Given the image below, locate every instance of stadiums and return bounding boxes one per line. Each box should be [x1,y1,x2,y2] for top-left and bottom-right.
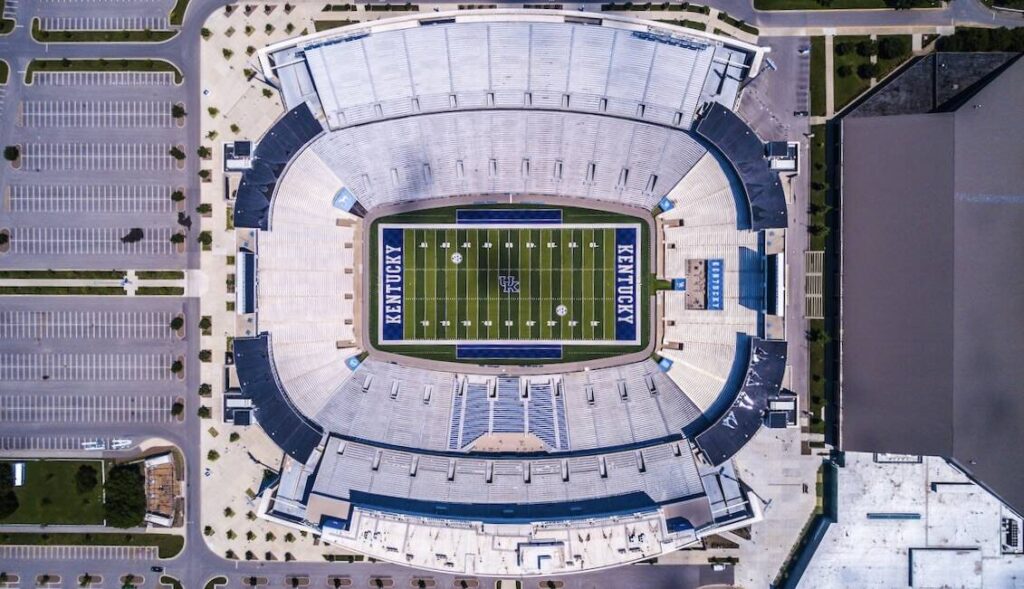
[224,9,798,577]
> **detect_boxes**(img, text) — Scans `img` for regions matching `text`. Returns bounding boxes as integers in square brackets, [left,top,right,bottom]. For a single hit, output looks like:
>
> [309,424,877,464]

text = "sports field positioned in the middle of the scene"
[368,204,652,363]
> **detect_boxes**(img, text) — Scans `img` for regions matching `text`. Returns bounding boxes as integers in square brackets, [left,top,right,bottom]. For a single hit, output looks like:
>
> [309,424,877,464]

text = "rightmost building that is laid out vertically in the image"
[831,50,1024,521]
